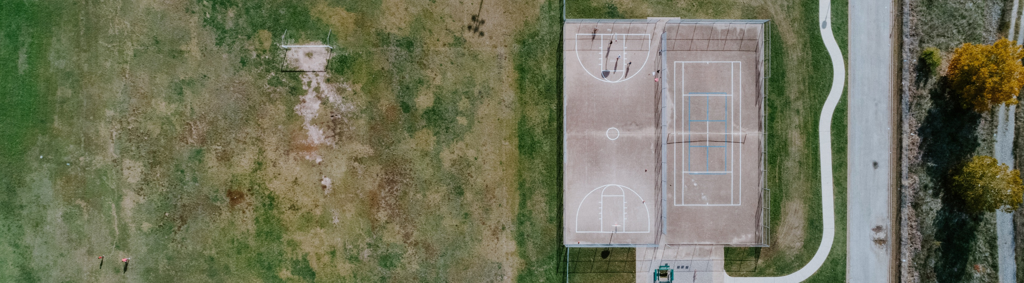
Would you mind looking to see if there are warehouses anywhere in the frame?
No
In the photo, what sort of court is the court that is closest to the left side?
basketball court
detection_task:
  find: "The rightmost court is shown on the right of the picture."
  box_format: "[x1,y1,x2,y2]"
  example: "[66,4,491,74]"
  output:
[661,23,763,245]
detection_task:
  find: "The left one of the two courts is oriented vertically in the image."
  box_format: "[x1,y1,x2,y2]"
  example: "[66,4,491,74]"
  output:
[563,23,661,245]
